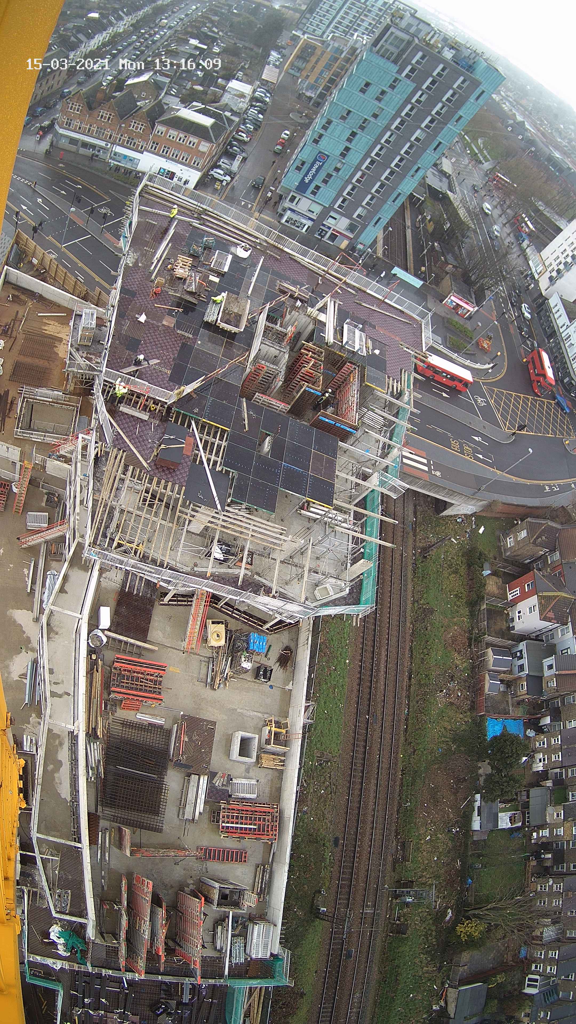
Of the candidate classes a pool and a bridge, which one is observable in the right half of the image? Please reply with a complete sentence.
What appears in the right half of the image is a bridge.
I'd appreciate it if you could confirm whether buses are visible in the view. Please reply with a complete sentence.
Yes, the image includes a bus.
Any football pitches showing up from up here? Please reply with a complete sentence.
No, I find no football pitch anywhere in the image.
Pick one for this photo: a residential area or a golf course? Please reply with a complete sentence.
This looks like a residential area.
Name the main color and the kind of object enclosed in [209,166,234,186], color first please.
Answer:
white car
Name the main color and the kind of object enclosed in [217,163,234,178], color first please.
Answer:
gray car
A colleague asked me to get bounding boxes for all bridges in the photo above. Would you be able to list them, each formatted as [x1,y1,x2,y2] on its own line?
[386,464,492,515]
